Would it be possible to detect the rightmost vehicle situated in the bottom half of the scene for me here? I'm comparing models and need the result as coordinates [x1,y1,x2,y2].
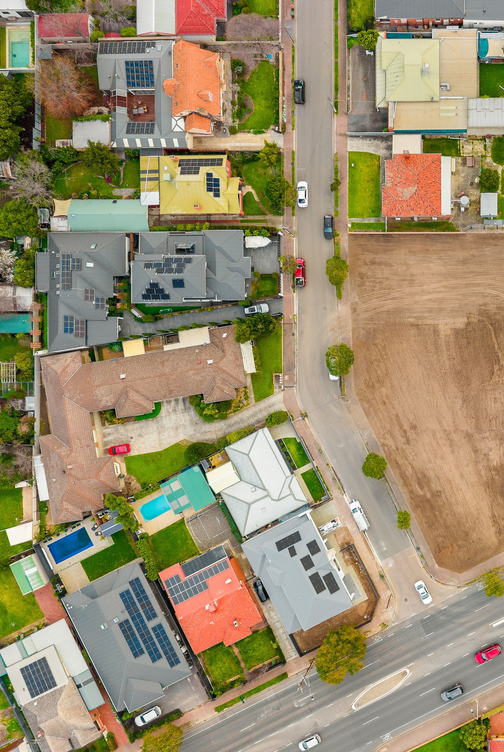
[477,644,500,661]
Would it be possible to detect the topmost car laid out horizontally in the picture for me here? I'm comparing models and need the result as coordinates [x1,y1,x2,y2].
[243,303,270,316]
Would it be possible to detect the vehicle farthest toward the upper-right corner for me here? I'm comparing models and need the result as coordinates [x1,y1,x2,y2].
[293,79,305,106]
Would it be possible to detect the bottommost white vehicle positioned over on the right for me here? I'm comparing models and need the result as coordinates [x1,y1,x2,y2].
[298,732,321,750]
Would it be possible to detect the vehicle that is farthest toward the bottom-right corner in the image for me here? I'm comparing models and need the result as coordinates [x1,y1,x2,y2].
[440,682,466,702]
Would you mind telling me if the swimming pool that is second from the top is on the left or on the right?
left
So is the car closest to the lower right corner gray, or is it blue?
gray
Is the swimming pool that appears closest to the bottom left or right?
left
